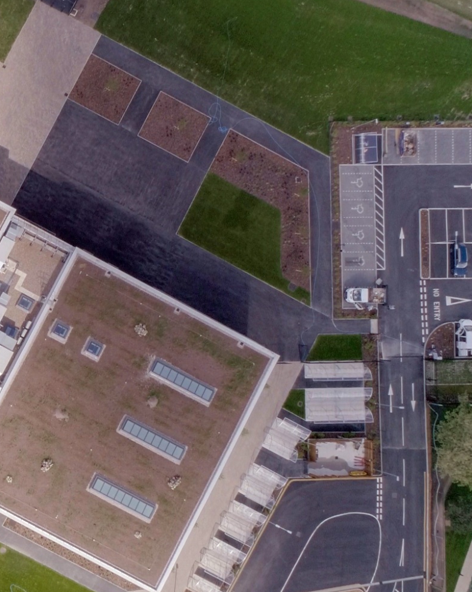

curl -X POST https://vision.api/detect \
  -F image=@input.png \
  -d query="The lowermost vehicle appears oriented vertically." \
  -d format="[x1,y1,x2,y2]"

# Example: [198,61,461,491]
[454,314,472,354]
